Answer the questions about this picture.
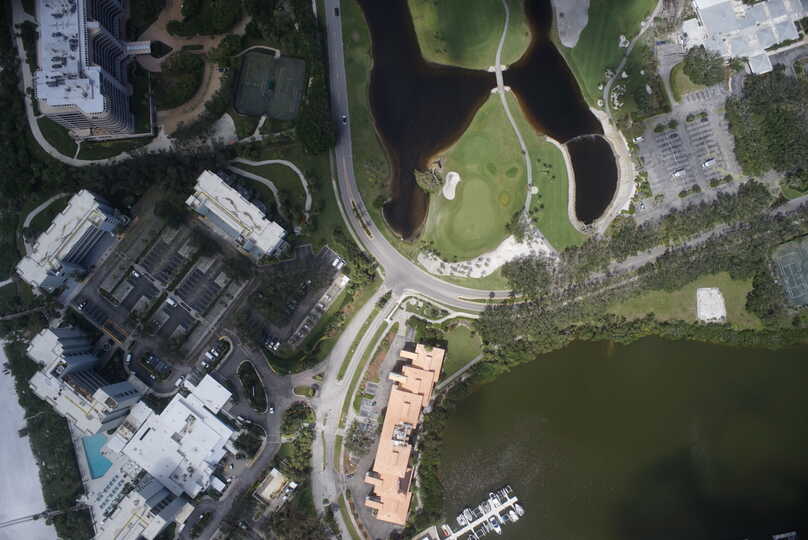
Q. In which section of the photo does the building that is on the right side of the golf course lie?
top right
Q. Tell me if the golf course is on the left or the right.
right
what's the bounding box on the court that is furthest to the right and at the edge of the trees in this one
[773,238,808,306]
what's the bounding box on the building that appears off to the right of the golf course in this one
[678,0,808,73]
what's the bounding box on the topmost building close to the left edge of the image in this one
[35,0,152,141]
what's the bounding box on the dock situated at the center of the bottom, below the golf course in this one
[437,486,520,540]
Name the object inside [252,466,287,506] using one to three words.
building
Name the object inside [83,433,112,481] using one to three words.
swimming pool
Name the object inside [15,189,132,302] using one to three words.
building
